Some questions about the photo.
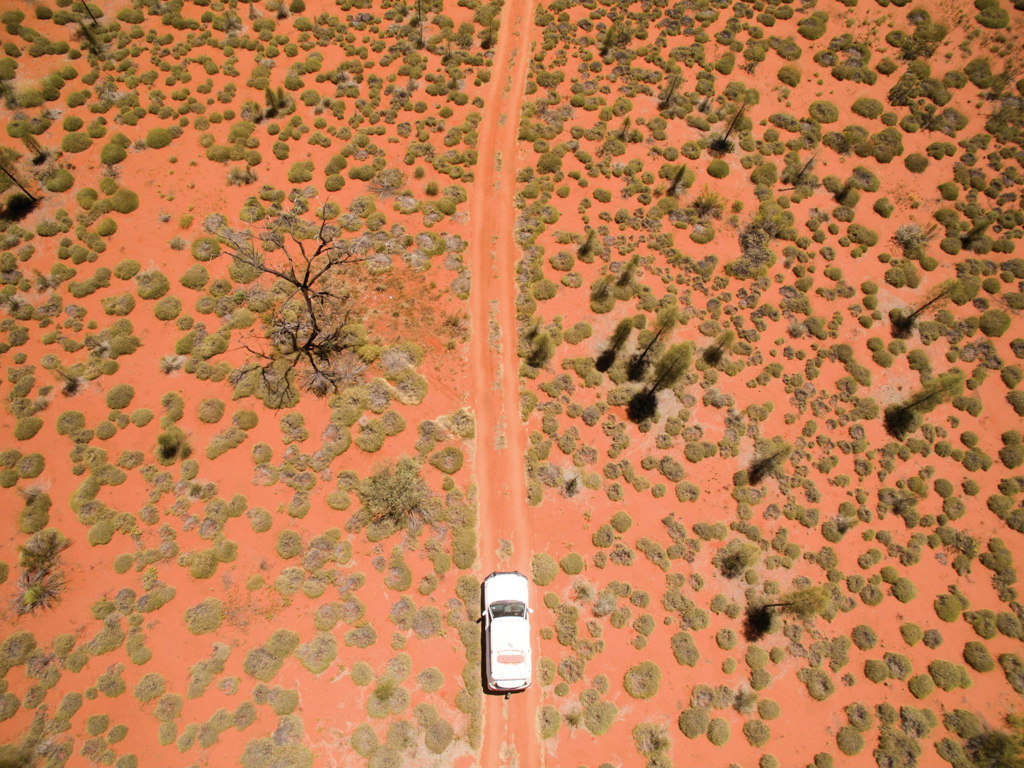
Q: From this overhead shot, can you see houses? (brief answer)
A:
No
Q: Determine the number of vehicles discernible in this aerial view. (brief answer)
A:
1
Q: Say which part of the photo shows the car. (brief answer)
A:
bottom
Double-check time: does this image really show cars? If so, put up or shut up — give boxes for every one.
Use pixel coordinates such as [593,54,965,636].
[482,570,534,697]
